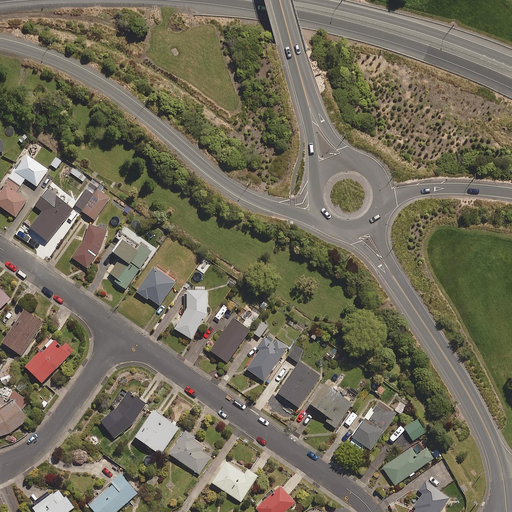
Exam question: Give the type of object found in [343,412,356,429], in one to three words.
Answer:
vehicle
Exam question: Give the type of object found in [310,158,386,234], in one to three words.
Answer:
roundabout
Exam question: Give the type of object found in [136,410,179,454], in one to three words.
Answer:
house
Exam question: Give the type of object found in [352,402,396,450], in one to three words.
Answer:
house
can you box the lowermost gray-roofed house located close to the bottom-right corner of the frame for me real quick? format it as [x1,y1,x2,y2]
[410,481,449,512]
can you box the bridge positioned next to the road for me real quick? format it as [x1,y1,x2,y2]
[264,0,306,56]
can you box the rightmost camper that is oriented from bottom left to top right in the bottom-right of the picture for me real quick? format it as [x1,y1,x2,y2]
[388,426,405,443]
